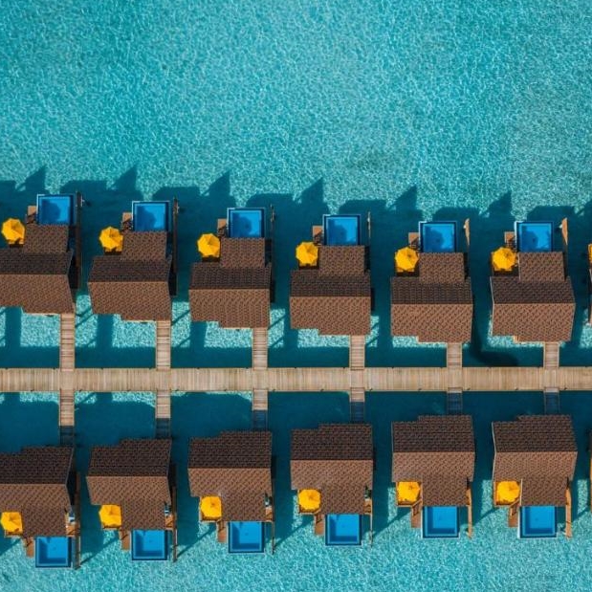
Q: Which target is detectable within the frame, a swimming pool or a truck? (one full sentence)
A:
I can see a swimming pool in this picture.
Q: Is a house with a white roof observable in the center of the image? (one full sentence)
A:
No, I see no house with a white roof in the center of the image.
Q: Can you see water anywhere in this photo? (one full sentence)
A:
Yes, there is water in the image.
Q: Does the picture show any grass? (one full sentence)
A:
No, there's no grass in this view.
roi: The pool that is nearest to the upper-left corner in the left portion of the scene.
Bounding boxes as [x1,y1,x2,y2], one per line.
[35,194,74,230]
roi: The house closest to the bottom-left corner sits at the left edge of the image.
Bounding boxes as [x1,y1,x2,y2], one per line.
[0,446,83,573]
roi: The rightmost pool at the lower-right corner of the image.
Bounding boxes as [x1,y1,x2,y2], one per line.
[518,502,557,539]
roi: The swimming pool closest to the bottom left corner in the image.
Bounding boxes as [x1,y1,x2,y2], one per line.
[31,533,72,569]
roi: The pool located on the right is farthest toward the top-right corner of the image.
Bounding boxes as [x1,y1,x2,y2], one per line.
[514,222,554,256]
